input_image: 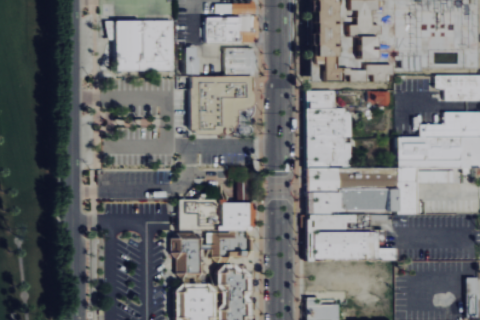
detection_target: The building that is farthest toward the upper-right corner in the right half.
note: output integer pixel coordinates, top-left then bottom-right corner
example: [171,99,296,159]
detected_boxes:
[431,75,480,102]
